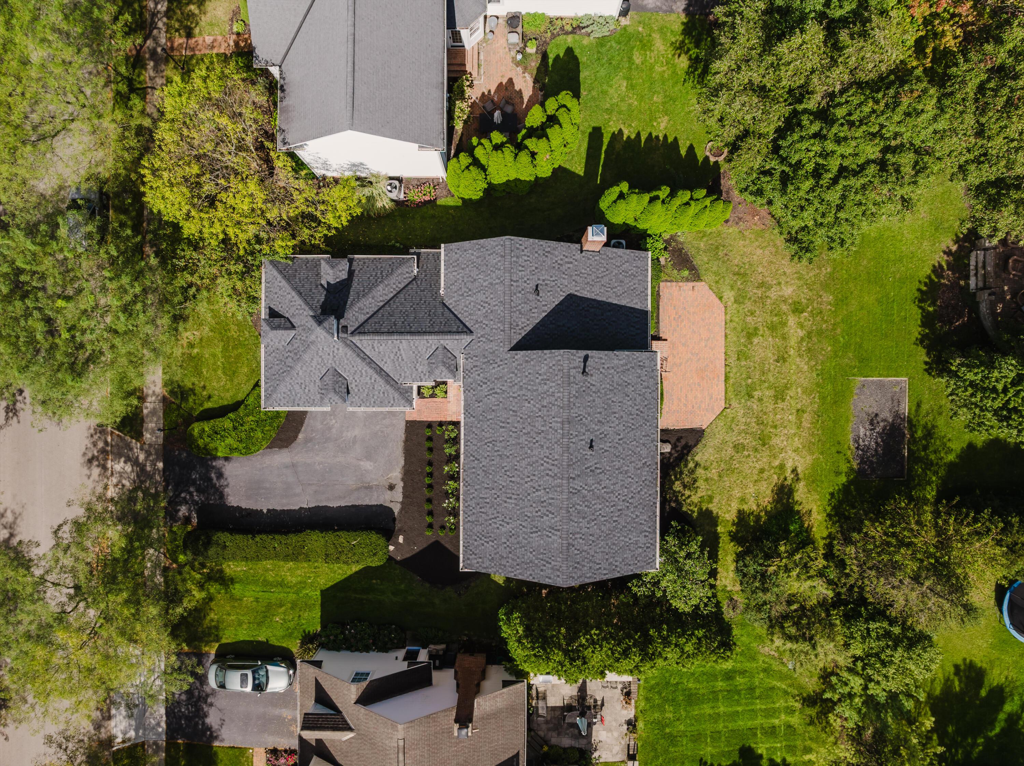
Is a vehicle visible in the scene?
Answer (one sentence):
Yes, the frame does contain a vehicle.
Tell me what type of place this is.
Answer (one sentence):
The area seen from above is a residential area.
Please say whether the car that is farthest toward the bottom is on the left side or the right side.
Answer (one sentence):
You can find the car that is farthest toward the bottom on the left side of the picture.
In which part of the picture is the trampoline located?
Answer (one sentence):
Look in the bottom right portion of the view to spot the trampoline.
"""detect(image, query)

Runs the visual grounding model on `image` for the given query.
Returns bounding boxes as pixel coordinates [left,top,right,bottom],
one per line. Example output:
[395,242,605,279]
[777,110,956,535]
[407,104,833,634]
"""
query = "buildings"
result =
[259,224,661,588]
[241,0,627,186]
[294,644,528,766]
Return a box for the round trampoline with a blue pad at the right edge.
[991,579,1024,644]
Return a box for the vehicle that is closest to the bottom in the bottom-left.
[208,652,295,697]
